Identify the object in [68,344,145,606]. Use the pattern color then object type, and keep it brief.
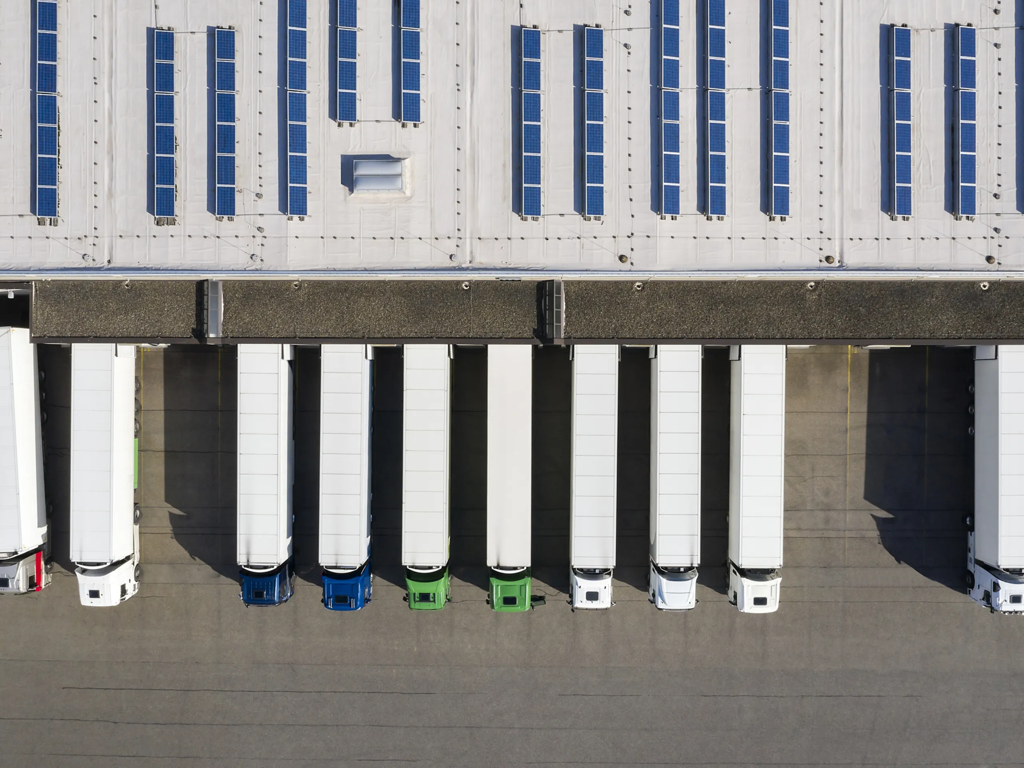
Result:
white truck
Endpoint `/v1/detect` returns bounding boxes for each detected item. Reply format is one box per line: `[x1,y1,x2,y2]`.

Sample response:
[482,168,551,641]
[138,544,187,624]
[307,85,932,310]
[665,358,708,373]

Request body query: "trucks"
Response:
[0,324,59,594]
[234,344,298,610]
[566,344,622,617]
[645,344,705,613]
[68,344,145,606]
[484,344,545,613]
[317,344,376,612]
[723,344,788,614]
[400,344,454,612]
[962,344,1024,615]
